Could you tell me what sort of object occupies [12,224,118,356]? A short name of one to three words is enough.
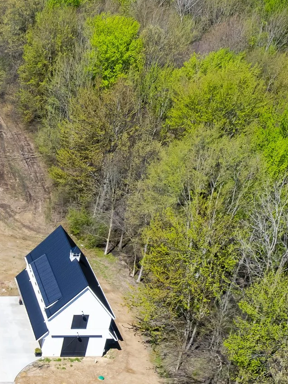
barn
